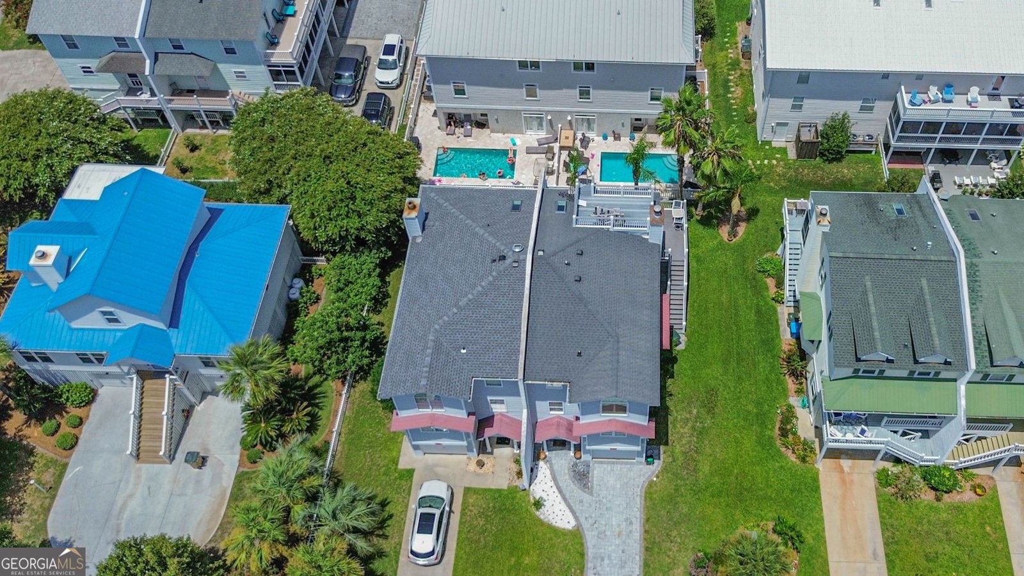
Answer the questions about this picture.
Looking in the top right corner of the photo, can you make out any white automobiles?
No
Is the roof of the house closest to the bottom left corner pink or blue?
blue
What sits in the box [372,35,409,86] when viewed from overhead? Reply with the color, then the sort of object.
white car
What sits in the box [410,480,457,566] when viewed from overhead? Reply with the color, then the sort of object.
white car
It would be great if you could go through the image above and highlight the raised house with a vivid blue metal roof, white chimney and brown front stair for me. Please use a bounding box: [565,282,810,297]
[0,164,303,464]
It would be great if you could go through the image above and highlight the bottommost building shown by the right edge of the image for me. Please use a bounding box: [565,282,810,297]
[777,178,1024,471]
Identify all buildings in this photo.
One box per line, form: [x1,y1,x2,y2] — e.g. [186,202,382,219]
[0,164,303,464]
[413,0,699,134]
[755,0,1024,170]
[24,0,348,135]
[777,178,1024,471]
[378,160,690,487]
